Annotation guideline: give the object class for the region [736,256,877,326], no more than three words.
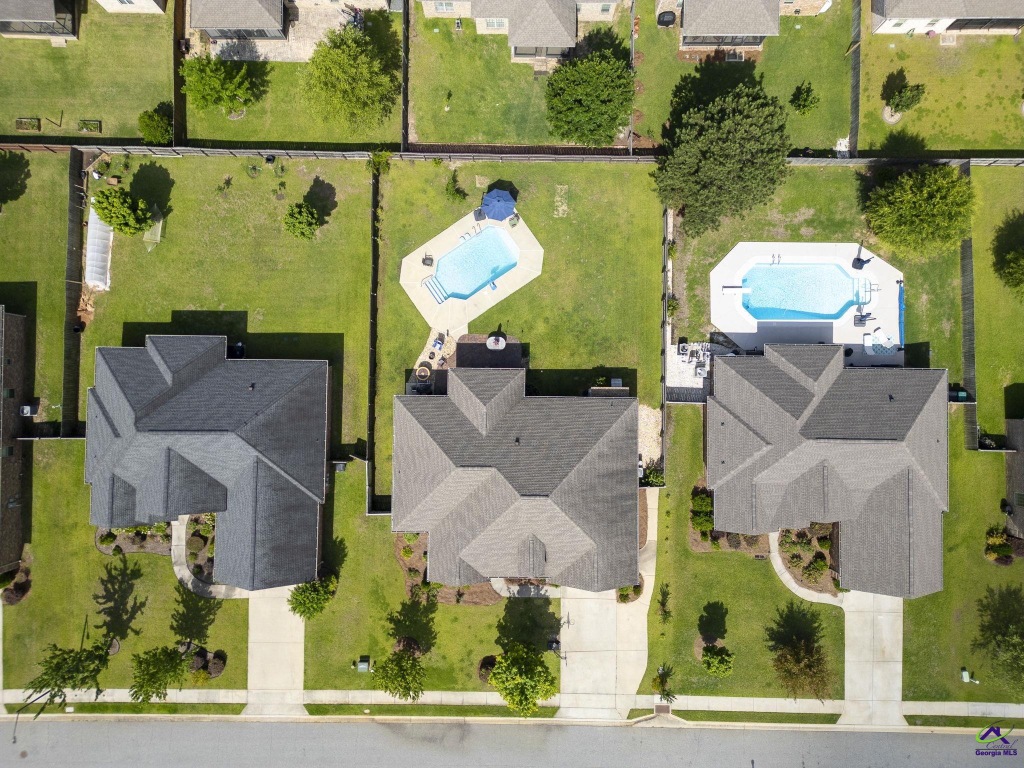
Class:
swimming pool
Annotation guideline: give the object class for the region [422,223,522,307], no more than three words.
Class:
swimming pool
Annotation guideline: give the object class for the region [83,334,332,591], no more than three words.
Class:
house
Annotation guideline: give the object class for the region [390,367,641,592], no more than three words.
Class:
house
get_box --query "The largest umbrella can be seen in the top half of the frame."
[473,189,515,222]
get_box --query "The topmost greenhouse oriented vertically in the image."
[83,196,113,295]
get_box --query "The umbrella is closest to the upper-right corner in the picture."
[852,253,883,270]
